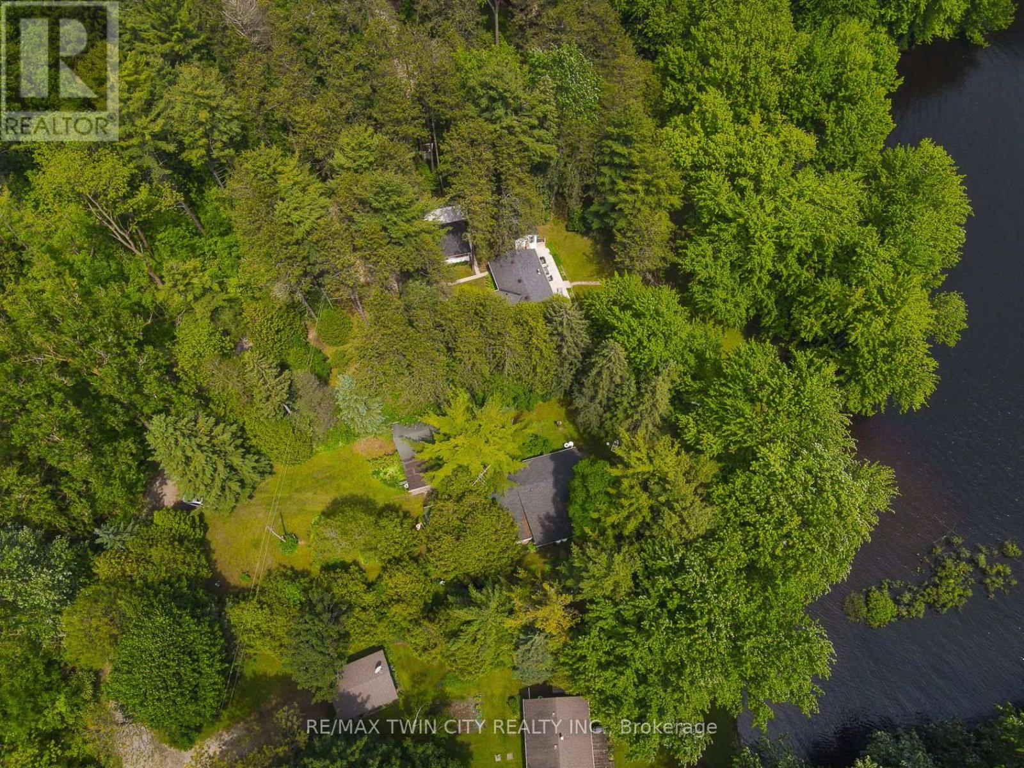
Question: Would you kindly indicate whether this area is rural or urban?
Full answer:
The area shown here is rural.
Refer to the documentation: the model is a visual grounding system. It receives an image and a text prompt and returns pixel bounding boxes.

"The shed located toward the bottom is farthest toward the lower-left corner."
[323,647,399,718]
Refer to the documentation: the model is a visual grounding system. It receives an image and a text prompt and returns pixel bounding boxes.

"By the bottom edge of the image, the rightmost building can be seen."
[522,695,595,768]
